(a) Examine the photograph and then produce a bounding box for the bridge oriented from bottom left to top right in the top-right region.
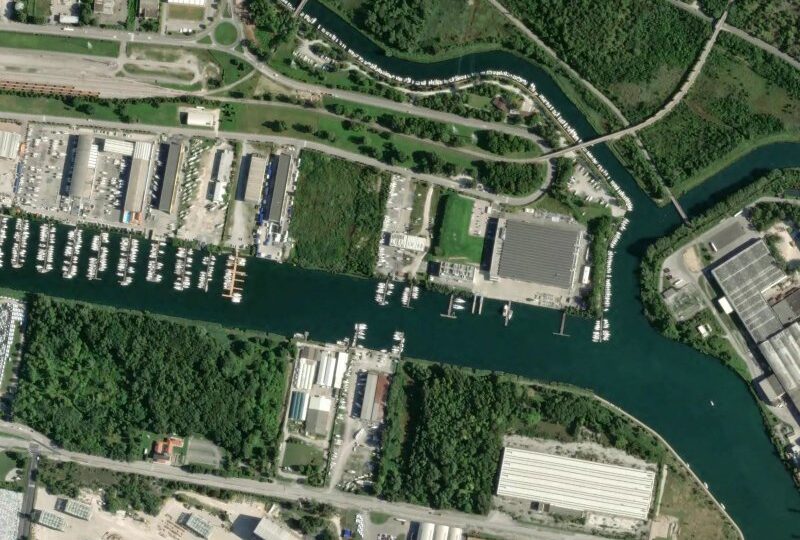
[539,0,734,162]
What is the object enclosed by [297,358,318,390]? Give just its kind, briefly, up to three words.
shed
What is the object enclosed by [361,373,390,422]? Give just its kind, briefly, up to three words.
building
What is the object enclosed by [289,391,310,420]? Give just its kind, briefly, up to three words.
shed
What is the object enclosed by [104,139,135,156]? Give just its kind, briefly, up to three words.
building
